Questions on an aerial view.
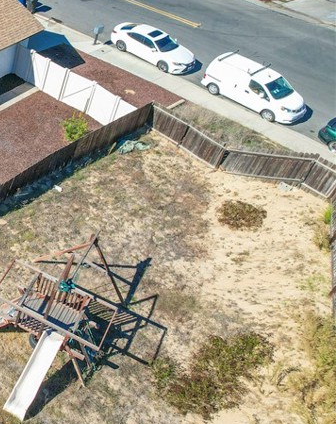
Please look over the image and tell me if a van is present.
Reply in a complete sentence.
Yes, looking at the shot, I can spot a van.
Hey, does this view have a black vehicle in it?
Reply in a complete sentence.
No, this view has no black vehicle in it.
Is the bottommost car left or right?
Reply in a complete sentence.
It is on the right.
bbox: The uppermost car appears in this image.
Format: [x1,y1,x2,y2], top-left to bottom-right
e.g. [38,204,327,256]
[109,24,197,76]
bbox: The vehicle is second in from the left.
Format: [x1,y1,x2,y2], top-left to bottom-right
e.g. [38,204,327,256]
[199,52,307,126]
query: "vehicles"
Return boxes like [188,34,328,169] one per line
[308,115,336,155]
[109,24,197,76]
[199,52,307,126]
